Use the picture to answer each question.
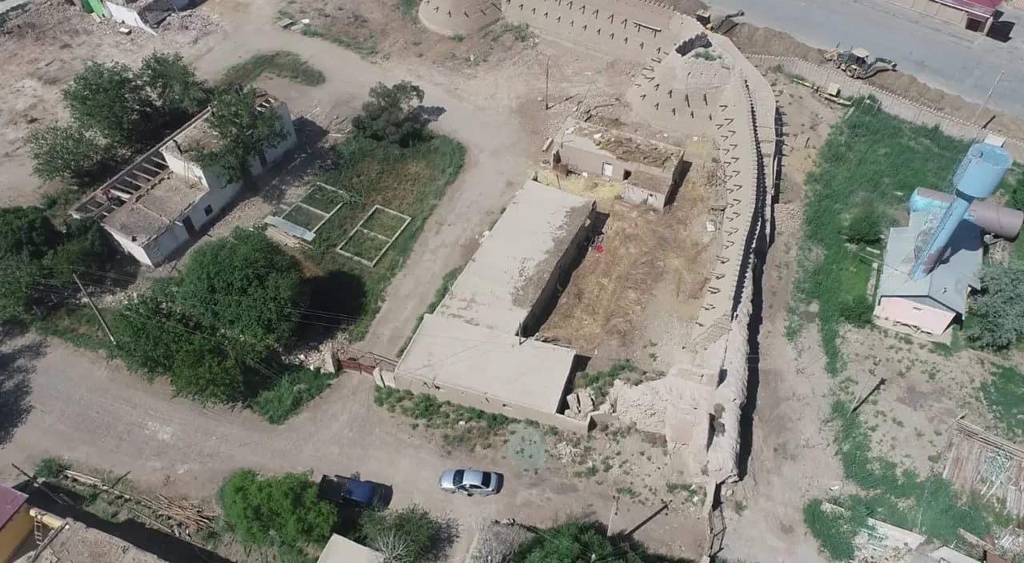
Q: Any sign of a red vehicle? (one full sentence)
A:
No, this view has no red vehicle in it.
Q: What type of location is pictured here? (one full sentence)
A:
This image shows a residential area.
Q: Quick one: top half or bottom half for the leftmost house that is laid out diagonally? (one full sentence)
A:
The leftmost house that is laid out diagonally is in the top half of the image.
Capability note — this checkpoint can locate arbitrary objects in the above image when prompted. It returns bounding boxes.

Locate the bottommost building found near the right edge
[874,215,983,344]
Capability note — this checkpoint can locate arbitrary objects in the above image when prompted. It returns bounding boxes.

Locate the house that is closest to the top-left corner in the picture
[68,89,295,268]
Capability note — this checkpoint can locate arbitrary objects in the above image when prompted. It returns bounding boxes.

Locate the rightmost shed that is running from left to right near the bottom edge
[319,533,392,563]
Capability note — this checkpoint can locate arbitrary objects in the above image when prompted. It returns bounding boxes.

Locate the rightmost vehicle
[818,44,897,71]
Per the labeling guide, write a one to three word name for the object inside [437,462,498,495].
car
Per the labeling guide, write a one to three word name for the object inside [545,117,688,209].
house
